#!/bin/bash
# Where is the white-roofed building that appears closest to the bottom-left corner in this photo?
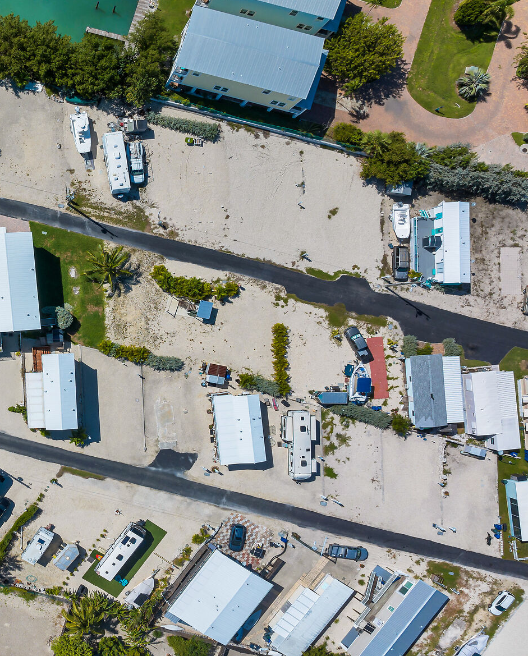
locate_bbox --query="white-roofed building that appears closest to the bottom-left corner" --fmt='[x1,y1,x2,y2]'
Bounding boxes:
[171,546,271,649]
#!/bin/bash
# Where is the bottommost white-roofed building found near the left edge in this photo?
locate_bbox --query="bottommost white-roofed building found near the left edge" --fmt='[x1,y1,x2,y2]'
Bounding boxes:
[24,344,78,430]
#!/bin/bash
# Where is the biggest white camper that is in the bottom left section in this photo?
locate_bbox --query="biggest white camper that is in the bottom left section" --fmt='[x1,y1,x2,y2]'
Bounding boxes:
[94,525,142,580]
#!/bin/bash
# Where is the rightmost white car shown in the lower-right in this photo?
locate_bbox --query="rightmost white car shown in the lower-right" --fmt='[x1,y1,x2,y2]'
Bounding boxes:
[486,587,517,617]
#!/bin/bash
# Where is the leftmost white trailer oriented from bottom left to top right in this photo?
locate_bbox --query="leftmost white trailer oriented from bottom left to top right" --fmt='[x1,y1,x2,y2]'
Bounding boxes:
[22,522,54,563]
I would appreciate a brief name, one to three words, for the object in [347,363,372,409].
boat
